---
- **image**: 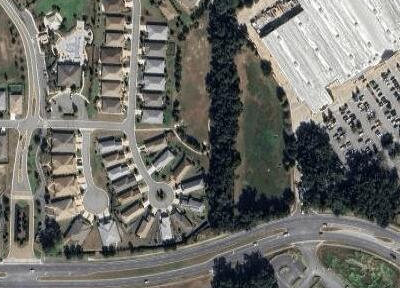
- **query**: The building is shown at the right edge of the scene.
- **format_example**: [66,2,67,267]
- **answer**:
[262,0,400,113]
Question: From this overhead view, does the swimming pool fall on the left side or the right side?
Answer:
left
